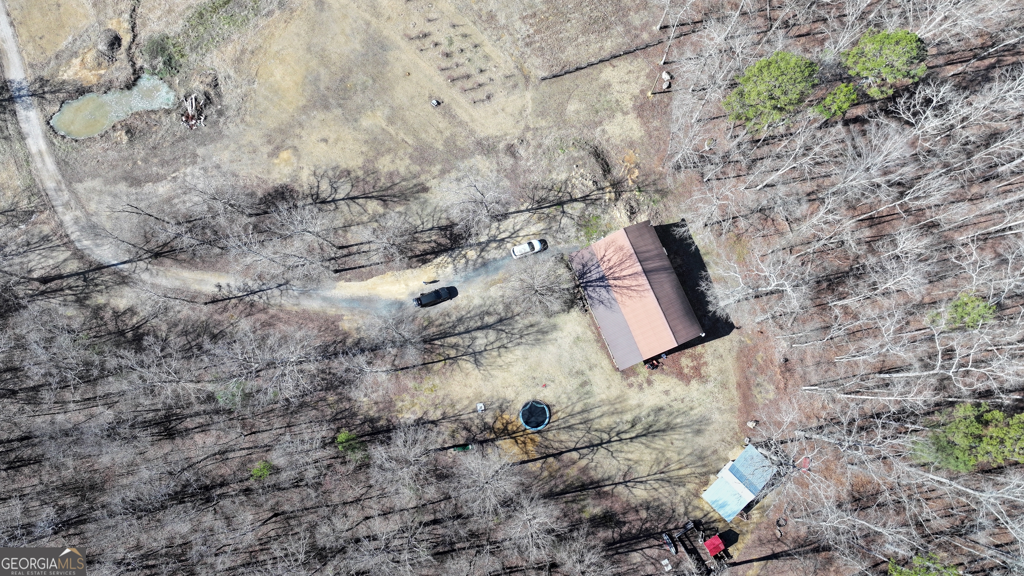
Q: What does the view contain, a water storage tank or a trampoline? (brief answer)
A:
trampoline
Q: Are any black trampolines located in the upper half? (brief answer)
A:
No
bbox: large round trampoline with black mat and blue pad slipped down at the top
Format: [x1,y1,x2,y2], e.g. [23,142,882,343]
[520,399,550,430]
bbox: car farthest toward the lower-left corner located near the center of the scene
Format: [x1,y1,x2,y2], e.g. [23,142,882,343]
[410,287,451,309]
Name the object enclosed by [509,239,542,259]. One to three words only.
car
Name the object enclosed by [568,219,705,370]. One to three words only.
house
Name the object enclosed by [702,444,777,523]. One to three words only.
shed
